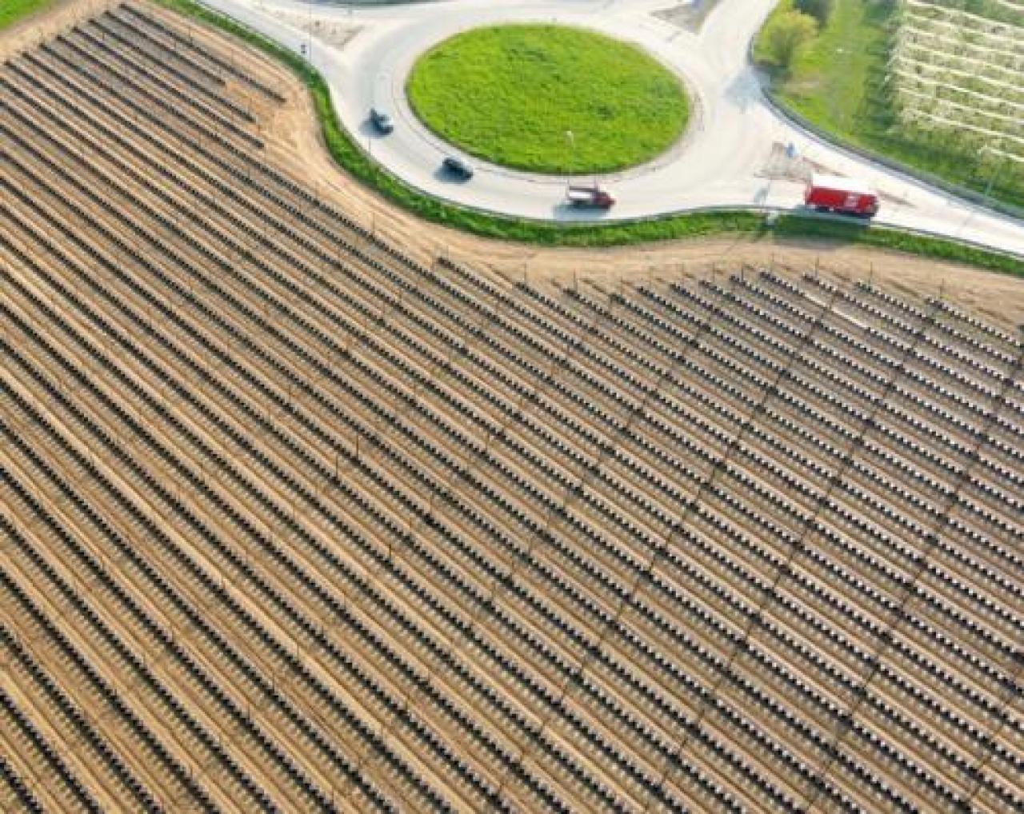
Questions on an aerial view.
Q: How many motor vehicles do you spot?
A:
4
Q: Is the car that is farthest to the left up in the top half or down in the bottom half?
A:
top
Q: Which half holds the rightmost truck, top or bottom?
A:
top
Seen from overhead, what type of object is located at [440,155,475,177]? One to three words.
car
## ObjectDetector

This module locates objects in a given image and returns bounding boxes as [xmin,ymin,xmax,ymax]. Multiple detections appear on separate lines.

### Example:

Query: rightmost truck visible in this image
[805,176,880,218]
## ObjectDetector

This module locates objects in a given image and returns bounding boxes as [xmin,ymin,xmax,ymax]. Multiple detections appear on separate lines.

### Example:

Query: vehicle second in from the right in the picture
[567,188,617,212]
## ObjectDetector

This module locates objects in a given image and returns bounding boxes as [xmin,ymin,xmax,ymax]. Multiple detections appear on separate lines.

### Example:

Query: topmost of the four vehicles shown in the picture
[368,111,395,133]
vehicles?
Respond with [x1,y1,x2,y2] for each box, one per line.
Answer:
[440,155,475,177]
[368,111,395,133]
[567,188,617,212]
[805,176,880,218]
